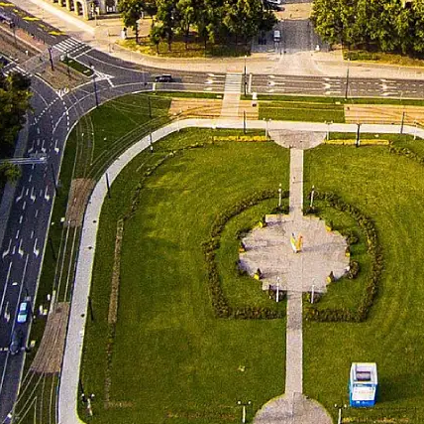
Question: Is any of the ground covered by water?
No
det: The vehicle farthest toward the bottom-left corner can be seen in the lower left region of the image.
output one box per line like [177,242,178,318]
[9,332,24,353]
